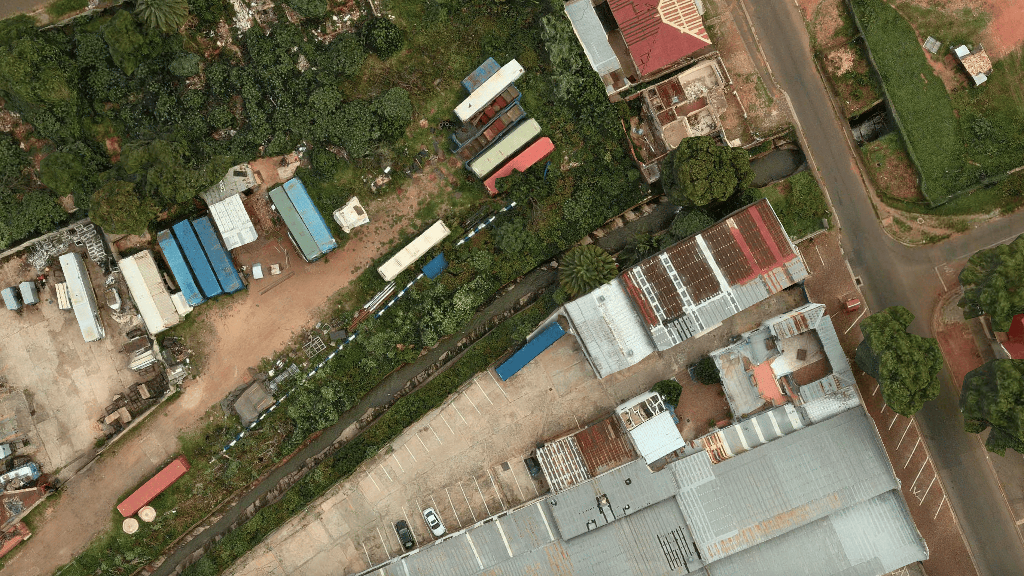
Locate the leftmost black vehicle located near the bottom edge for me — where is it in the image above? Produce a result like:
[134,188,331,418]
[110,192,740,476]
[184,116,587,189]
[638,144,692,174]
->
[396,518,415,550]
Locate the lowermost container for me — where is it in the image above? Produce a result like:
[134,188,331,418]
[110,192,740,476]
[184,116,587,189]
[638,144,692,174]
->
[117,456,190,517]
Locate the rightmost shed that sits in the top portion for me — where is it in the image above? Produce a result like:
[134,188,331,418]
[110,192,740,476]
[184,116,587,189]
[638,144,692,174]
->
[949,45,993,87]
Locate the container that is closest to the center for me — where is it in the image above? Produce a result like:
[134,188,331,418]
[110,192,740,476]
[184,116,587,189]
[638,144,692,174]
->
[495,320,564,380]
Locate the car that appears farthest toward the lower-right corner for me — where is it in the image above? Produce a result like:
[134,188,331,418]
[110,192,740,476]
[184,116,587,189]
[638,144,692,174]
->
[524,454,542,479]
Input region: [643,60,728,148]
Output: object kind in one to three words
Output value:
house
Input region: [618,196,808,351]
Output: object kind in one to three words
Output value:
building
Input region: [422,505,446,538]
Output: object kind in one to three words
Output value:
car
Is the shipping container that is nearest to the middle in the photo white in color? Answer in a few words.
No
